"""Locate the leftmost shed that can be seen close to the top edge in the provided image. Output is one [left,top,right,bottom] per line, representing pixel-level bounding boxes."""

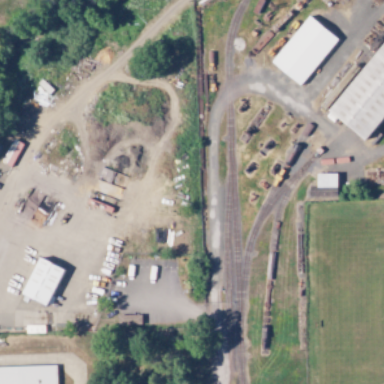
[273,16,339,85]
